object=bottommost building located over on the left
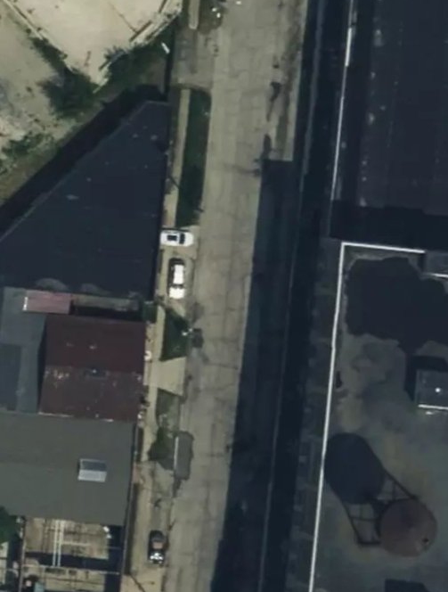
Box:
[0,410,137,527]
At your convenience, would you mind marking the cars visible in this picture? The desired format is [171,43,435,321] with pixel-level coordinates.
[167,260,186,299]
[160,231,196,248]
[149,530,167,566]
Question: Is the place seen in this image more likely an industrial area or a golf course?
industrial area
